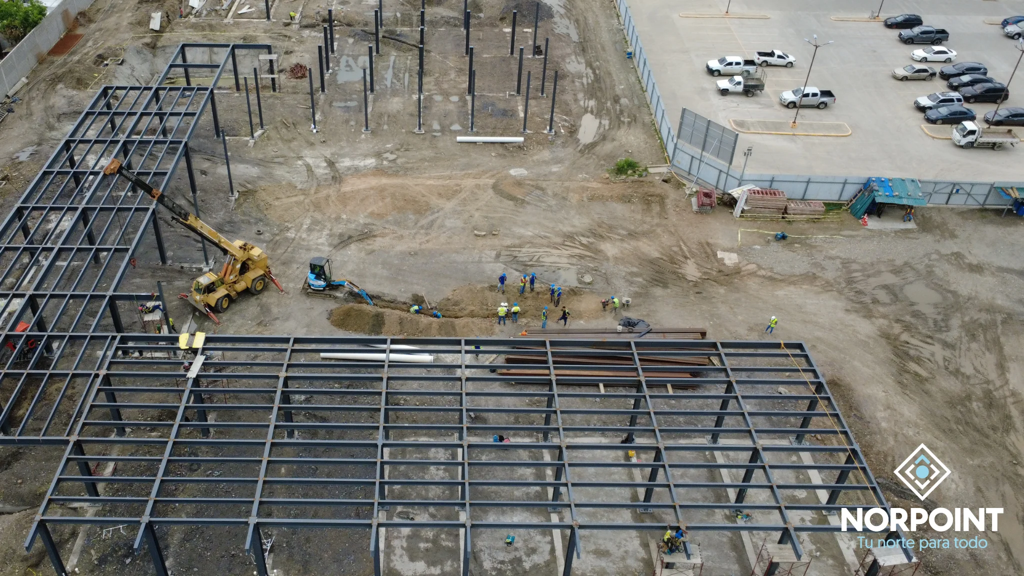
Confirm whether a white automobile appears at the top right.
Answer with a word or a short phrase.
Yes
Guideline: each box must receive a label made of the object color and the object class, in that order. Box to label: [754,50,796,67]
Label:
white vehicle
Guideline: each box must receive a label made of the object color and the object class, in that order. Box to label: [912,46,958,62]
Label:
white car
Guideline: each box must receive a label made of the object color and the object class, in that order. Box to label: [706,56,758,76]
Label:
white vehicle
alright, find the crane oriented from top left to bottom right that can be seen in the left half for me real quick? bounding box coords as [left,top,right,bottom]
[106,166,285,328]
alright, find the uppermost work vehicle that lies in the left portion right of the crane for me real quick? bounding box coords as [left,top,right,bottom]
[301,257,377,307]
